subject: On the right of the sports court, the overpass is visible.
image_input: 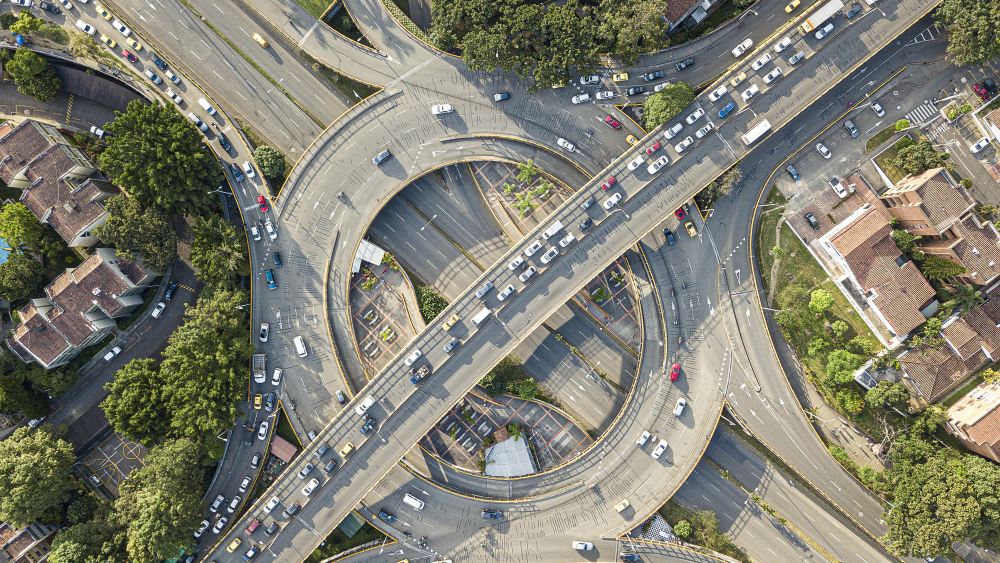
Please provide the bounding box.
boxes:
[201,0,941,563]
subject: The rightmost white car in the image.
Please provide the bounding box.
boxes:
[968,139,987,154]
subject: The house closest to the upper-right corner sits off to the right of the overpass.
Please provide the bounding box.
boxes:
[969,103,1000,154]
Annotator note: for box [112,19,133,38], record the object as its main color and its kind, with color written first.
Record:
white car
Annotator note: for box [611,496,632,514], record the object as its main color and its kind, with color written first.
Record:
white vehicle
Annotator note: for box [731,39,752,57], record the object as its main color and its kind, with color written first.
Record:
white car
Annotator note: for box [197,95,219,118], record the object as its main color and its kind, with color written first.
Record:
white vehicle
